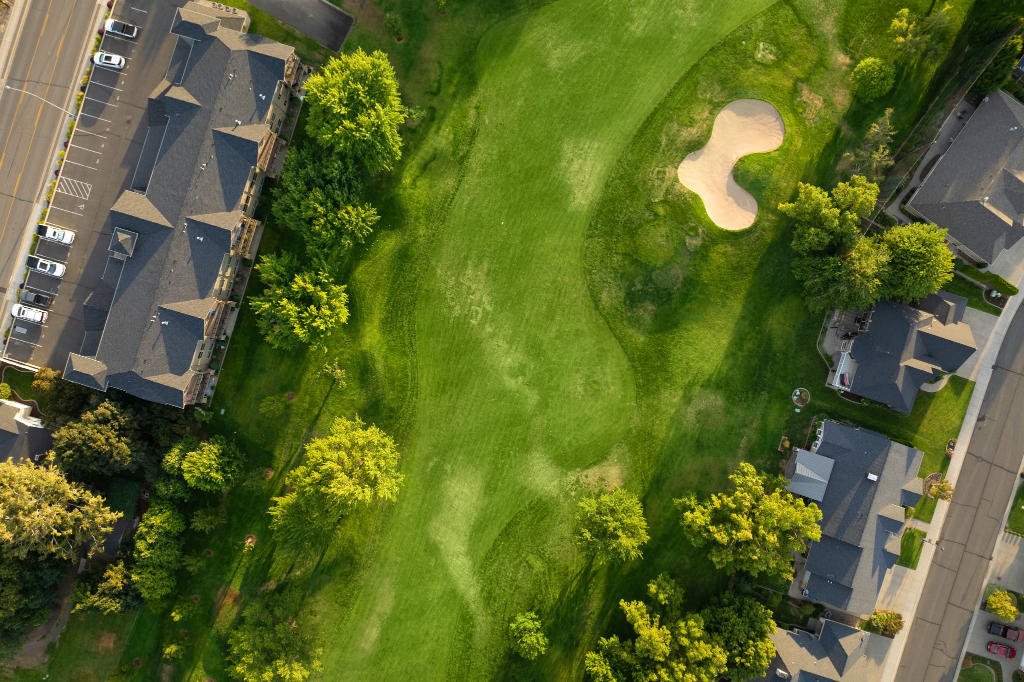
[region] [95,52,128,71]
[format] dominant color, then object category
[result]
white car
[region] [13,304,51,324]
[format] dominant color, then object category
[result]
white car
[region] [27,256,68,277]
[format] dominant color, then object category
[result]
white truck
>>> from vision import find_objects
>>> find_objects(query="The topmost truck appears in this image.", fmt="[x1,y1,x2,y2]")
[105,19,142,40]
